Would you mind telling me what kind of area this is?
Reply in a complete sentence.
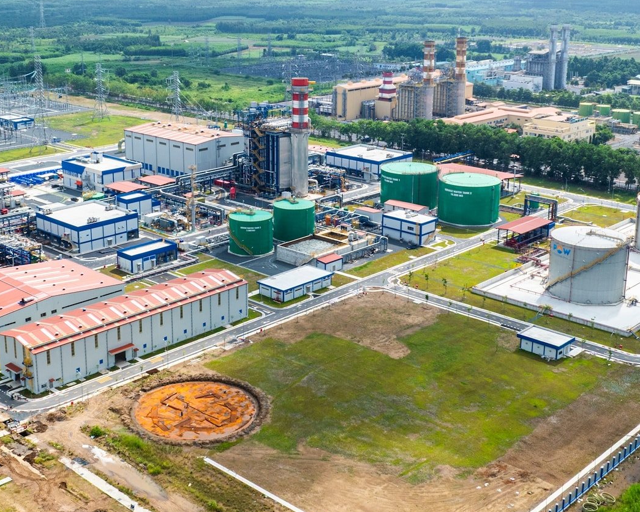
The area seen from above is an industrial area.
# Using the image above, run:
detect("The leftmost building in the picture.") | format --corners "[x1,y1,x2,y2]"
[0,115,34,130]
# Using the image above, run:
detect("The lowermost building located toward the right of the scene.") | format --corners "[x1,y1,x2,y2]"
[515,325,578,359]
